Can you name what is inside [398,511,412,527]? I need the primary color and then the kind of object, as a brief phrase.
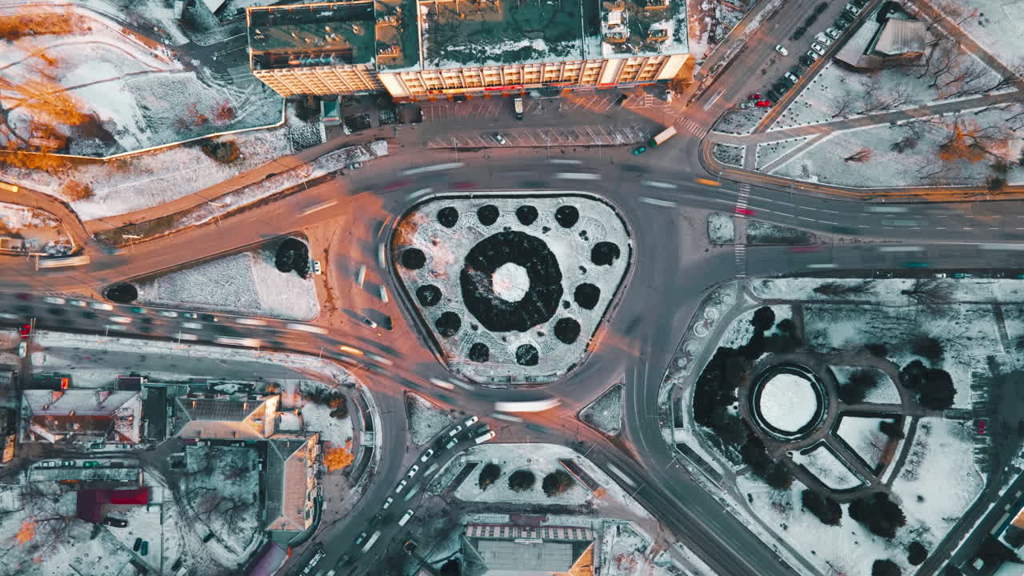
white vehicle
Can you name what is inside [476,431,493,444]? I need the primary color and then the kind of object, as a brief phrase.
white vehicle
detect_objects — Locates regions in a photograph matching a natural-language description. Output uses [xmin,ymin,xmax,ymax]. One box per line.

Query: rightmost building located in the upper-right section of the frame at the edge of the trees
[833,19,926,69]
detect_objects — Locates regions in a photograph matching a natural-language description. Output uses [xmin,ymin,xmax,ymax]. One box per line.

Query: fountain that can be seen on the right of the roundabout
[750,364,828,441]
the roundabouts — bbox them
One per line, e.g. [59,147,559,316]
[387,191,637,389]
